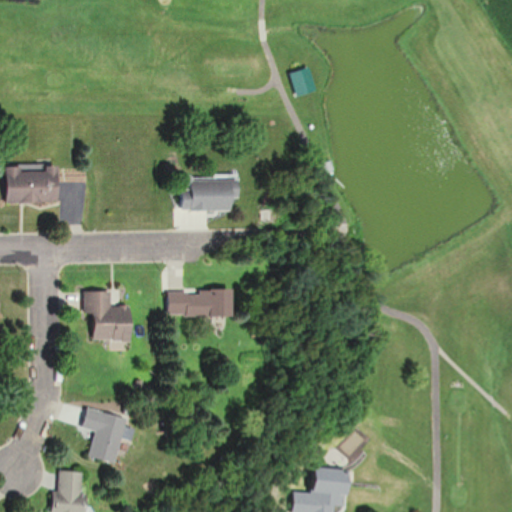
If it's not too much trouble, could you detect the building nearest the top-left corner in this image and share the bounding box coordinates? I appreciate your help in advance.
[6,164,59,205]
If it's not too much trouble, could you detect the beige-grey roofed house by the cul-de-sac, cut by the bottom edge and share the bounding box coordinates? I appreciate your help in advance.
[52,471,88,512]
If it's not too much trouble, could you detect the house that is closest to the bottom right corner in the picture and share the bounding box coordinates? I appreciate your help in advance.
[290,468,350,512]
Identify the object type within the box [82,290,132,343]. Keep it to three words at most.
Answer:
house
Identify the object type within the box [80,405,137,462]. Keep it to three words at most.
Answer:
house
